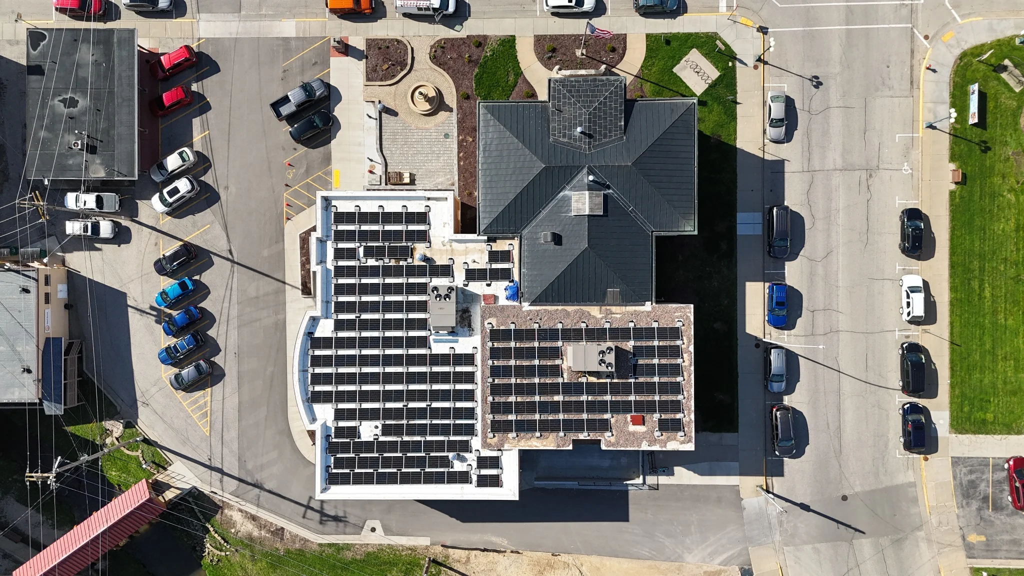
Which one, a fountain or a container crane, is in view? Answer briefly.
fountain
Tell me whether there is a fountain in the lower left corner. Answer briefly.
No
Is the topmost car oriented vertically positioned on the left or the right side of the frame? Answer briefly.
right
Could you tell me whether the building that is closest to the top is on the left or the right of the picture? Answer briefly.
left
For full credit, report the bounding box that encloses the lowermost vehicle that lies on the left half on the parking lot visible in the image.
[168,357,217,392]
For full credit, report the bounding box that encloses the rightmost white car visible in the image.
[899,275,927,321]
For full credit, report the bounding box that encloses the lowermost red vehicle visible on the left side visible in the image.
[150,83,197,120]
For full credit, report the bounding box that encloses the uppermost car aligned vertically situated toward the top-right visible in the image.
[764,91,788,143]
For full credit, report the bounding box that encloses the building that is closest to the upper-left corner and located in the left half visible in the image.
[26,28,148,188]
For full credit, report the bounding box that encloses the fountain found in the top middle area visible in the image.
[407,81,438,113]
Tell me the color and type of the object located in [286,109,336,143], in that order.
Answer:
black car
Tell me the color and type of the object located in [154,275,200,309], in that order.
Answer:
blue car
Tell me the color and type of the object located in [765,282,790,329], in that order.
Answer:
blue car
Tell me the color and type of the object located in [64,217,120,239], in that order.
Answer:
white car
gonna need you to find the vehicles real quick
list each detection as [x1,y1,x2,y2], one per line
[267,78,332,122]
[151,146,202,184]
[396,0,455,24]
[121,0,176,13]
[898,343,926,396]
[898,209,925,256]
[152,175,203,213]
[168,357,217,392]
[766,205,792,258]
[899,275,927,321]
[64,217,120,239]
[633,0,678,15]
[765,282,790,329]
[153,241,202,277]
[65,190,124,213]
[158,330,208,366]
[150,83,197,120]
[769,404,796,456]
[322,0,375,17]
[162,304,208,338]
[154,275,200,309]
[286,109,336,143]
[545,0,595,14]
[898,402,926,452]
[151,44,201,82]
[764,91,788,143]
[764,345,788,393]
[52,0,109,18]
